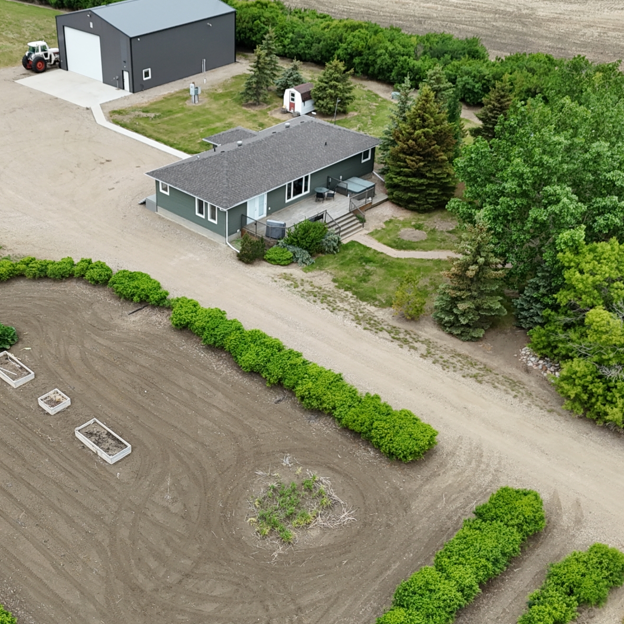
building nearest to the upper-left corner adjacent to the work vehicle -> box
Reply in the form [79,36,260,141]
[54,0,237,93]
